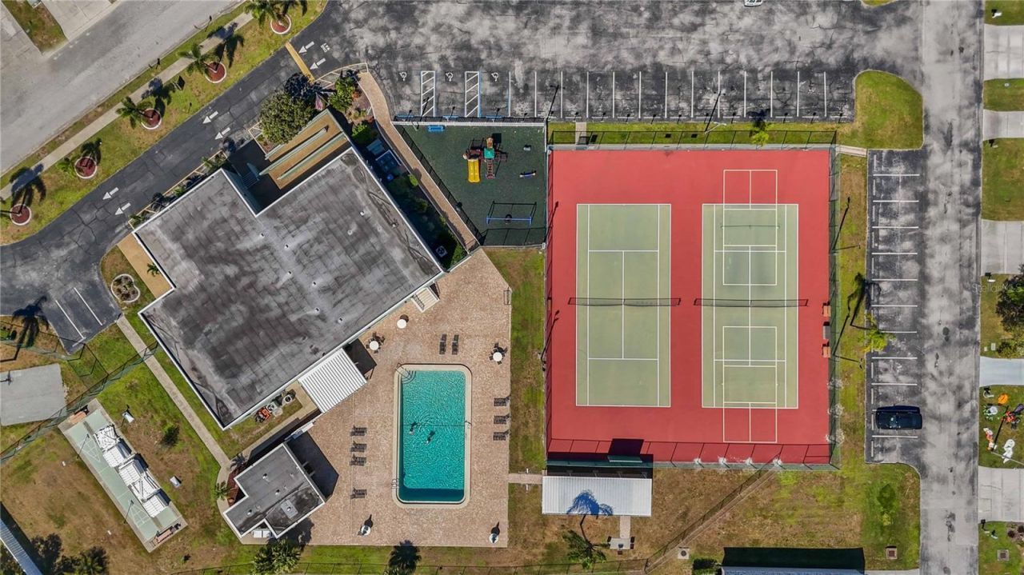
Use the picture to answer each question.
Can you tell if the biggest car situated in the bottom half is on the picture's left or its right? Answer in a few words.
right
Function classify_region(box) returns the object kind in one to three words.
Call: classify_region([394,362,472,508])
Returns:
swimming pool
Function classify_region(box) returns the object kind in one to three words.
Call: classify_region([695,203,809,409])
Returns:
tennis court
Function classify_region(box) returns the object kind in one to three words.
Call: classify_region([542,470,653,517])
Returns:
building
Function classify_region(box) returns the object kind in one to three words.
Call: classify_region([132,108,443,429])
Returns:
building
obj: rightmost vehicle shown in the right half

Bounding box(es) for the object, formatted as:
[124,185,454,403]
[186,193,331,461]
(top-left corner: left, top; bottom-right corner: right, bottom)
[877,408,926,430]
